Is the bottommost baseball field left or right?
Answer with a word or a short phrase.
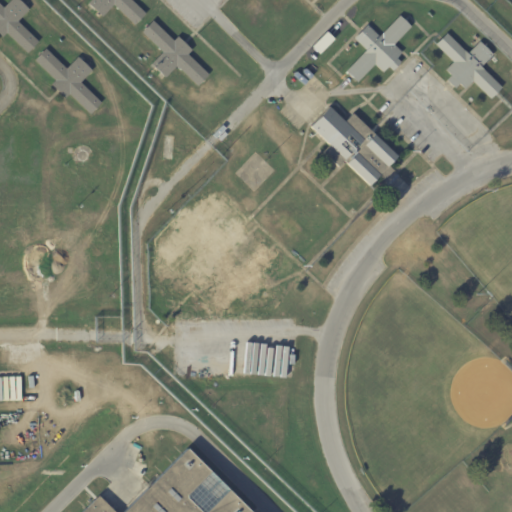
right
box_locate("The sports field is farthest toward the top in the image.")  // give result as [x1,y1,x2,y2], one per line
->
[438,185,512,316]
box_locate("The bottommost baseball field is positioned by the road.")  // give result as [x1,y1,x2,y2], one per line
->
[346,268,512,512]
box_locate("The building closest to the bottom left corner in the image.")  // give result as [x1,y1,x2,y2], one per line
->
[132,447,258,512]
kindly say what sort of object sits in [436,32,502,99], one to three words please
building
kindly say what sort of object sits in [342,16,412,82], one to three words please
building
